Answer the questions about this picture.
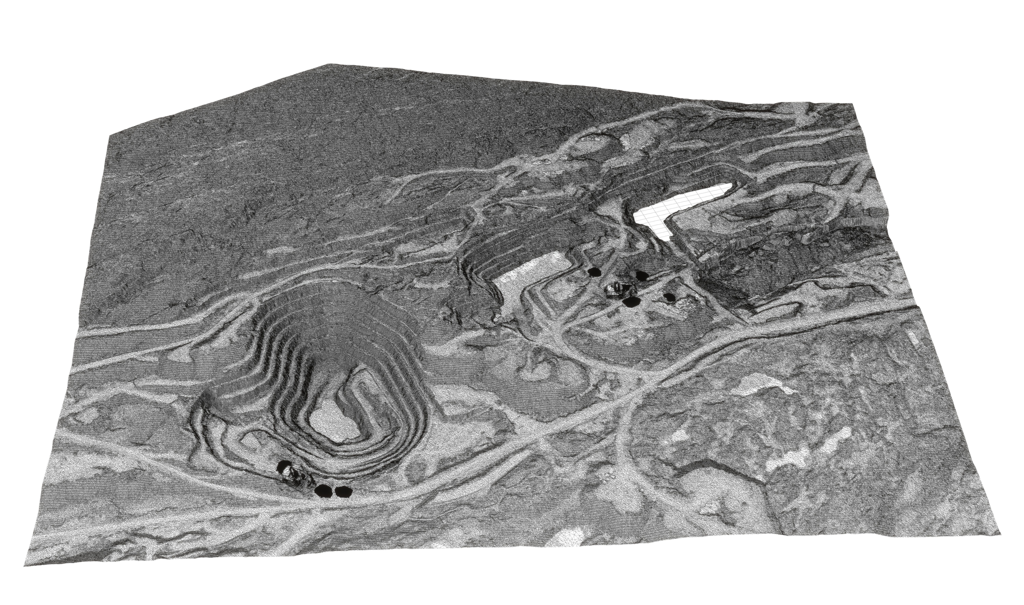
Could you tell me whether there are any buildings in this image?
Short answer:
No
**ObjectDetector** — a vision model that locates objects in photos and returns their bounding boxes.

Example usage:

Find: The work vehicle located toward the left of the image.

[278,465,314,490]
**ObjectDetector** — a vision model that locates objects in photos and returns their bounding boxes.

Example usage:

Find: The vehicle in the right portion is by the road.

[604,283,638,301]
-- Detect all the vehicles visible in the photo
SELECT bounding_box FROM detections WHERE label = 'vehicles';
[604,283,638,301]
[278,465,314,490]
